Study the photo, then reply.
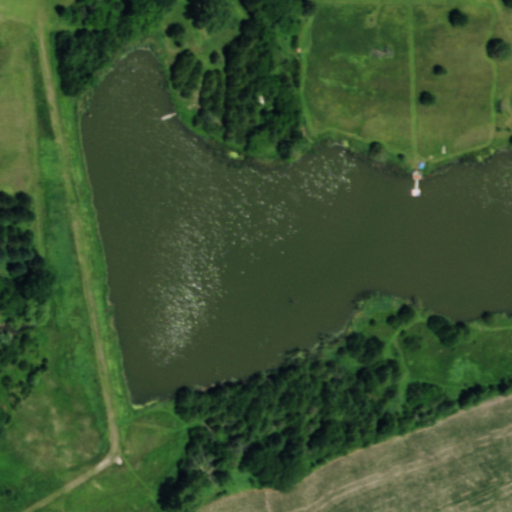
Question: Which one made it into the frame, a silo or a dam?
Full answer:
There is a dam in the scene.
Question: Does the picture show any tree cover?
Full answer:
Yes, some tree cover is visible.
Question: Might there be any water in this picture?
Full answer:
Yes, the picture does contain water.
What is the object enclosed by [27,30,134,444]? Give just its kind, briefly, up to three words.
dam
